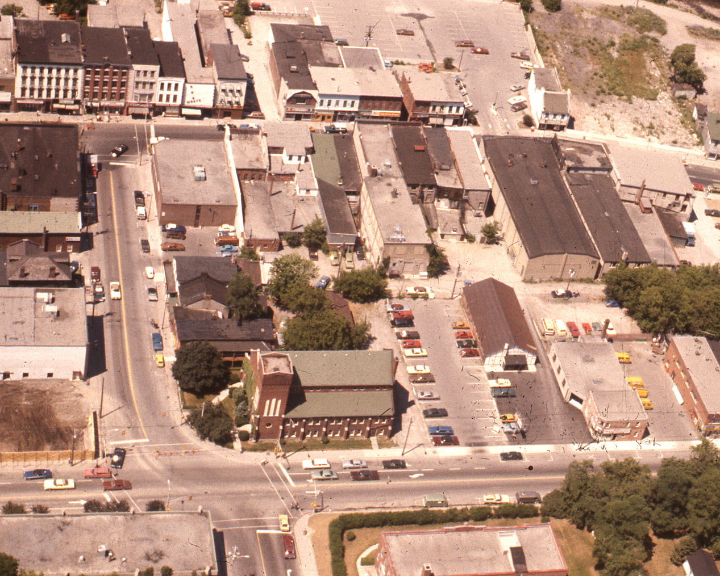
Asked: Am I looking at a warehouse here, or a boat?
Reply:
warehouse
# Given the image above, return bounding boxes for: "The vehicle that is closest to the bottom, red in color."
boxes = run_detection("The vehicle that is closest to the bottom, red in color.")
[282,536,295,559]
